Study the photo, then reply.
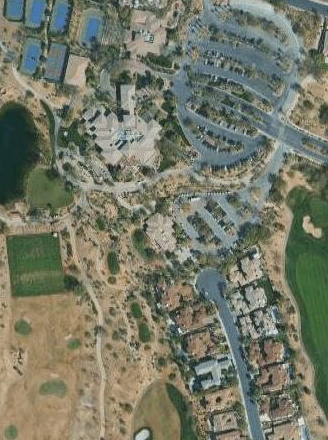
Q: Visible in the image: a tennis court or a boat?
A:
tennis court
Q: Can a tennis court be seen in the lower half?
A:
No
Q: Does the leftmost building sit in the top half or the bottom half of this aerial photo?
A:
top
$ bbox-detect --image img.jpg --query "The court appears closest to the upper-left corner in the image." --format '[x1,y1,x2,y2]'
[4,0,25,21]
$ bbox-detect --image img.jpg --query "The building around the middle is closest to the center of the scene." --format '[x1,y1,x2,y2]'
[145,212,180,254]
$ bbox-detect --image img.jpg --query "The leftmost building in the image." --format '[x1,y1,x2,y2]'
[62,54,90,86]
